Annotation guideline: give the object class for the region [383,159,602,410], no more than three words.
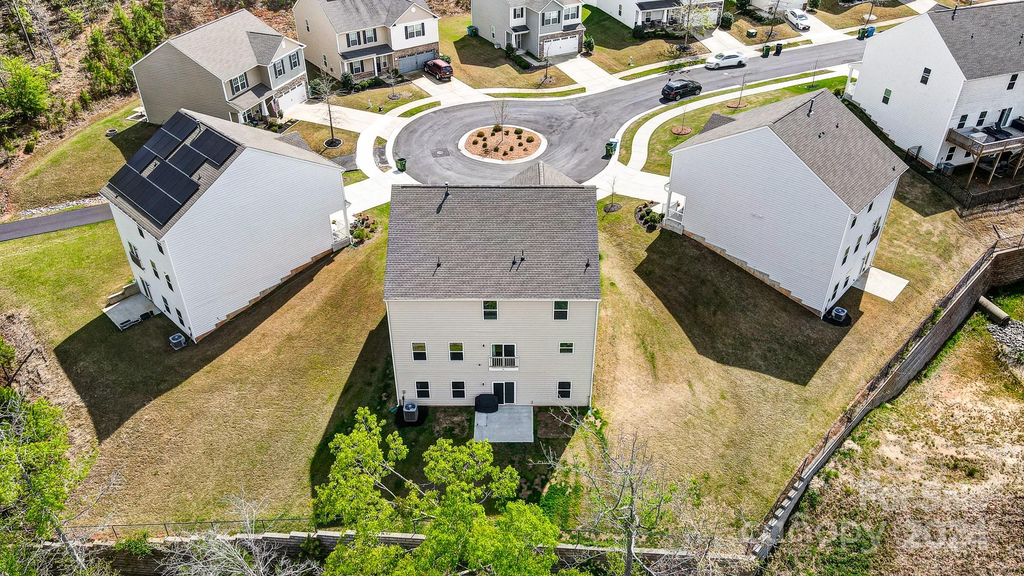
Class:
house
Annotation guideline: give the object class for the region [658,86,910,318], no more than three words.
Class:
house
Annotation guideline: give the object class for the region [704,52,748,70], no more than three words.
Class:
car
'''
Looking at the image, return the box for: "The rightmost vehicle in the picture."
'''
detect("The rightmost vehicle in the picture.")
[787,11,810,27]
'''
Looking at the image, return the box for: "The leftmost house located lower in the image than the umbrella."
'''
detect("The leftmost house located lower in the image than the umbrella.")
[98,108,356,344]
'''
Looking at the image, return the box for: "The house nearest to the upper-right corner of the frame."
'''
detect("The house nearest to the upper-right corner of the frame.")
[843,1,1024,187]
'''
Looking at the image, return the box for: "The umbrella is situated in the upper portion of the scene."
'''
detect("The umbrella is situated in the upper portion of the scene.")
[122,95,144,118]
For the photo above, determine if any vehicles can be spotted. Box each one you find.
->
[660,78,704,101]
[424,57,454,77]
[787,11,810,27]
[704,52,748,70]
